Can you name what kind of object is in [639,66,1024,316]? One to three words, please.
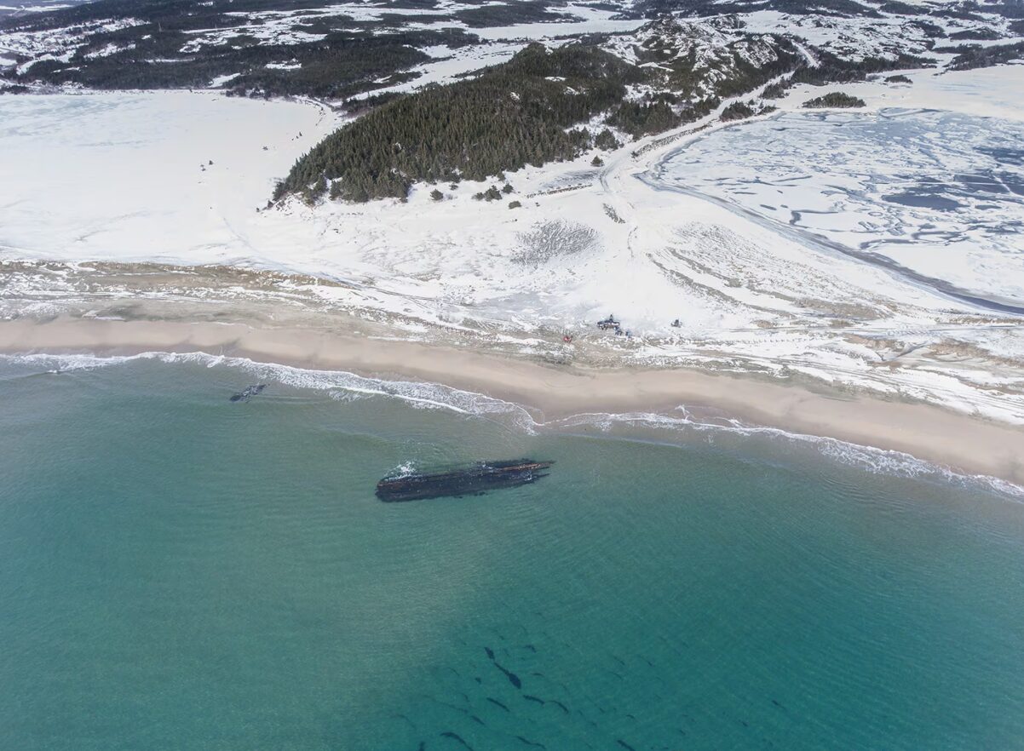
pond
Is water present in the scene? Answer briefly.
Yes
